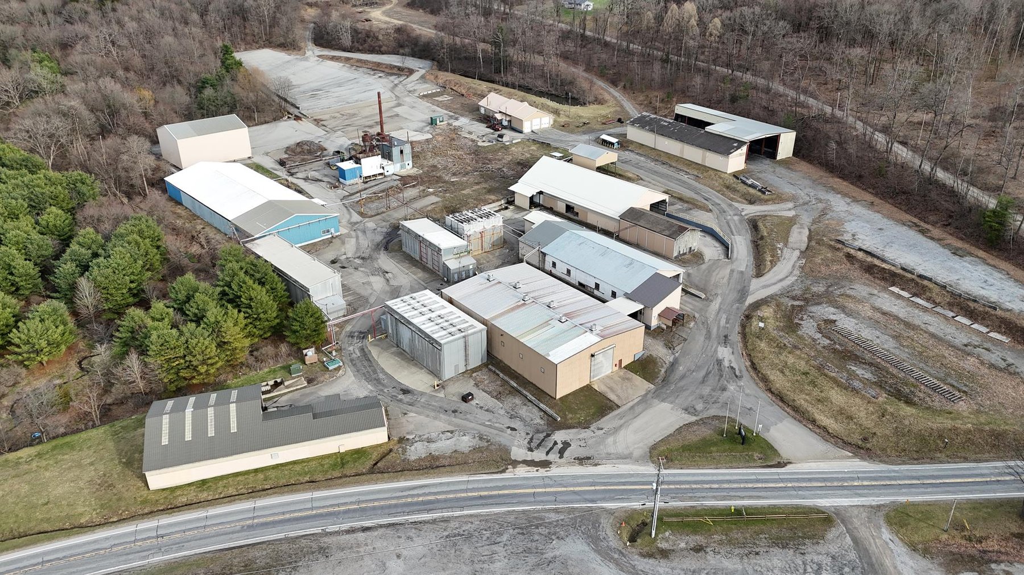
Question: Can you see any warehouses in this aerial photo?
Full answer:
Yes, there is a warehouse in the image.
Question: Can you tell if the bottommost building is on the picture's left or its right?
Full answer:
The bottommost building sits on the left side.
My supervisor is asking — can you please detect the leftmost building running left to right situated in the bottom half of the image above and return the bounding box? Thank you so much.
[142,383,387,488]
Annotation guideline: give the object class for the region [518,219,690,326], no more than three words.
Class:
building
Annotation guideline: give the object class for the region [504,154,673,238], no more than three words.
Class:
shed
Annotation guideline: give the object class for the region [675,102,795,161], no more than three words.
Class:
barn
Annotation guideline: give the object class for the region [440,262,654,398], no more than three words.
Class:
warehouse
